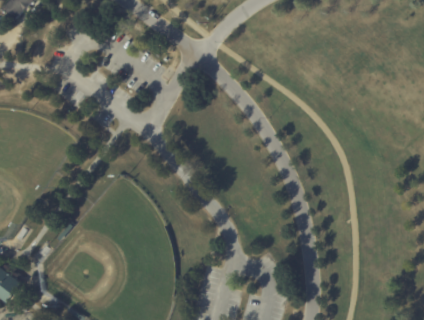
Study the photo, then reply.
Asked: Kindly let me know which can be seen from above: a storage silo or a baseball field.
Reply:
baseball field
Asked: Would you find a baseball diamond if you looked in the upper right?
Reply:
No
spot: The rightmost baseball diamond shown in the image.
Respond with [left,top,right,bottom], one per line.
[48,176,176,320]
